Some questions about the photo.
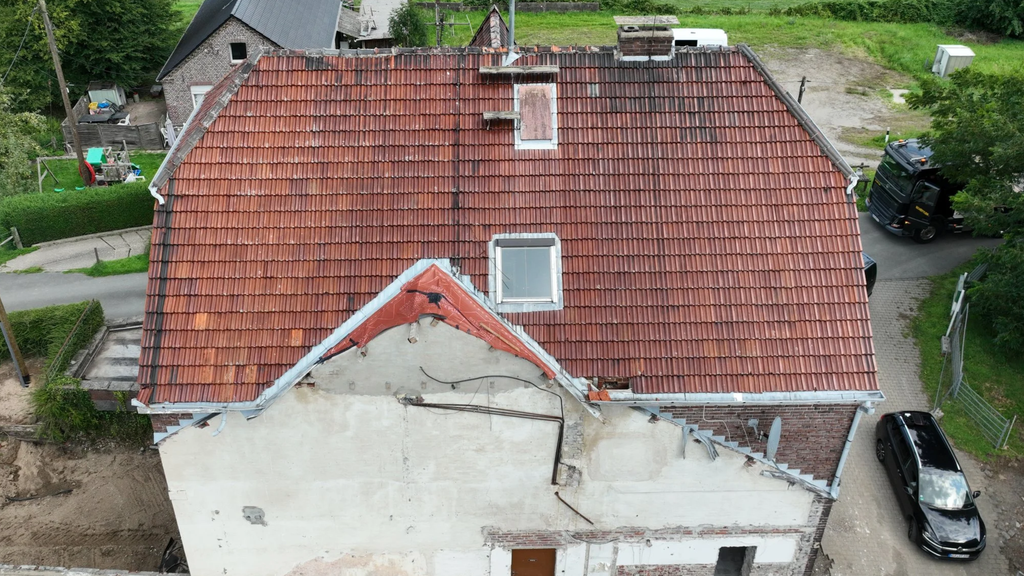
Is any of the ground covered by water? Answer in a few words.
No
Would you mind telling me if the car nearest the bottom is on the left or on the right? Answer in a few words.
right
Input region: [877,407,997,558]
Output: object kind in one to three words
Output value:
car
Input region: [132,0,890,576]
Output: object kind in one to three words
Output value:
house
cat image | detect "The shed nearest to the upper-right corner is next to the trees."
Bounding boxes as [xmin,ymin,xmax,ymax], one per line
[932,47,976,78]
